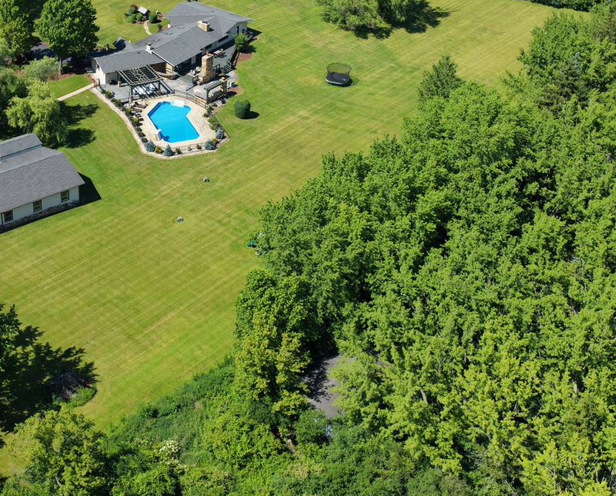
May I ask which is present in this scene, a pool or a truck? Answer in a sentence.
The image shows a pool.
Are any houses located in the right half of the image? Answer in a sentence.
No, I see no house in the right half of the image.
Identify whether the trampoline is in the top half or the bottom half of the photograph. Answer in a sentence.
You can find the trampoline in the top half.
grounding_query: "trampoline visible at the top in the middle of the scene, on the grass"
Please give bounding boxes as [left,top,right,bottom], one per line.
[326,57,353,81]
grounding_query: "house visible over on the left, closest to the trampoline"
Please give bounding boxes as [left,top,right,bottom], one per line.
[85,2,255,84]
